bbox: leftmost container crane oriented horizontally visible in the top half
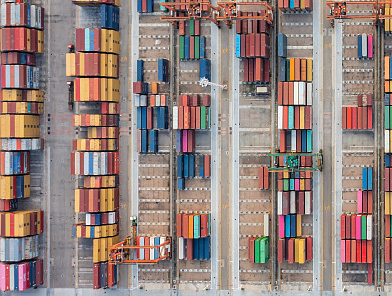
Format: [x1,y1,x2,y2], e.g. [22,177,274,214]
[159,0,220,28]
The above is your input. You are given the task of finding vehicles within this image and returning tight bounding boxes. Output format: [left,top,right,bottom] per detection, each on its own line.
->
[65,81,73,109]
[66,45,74,55]
[130,217,137,244]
